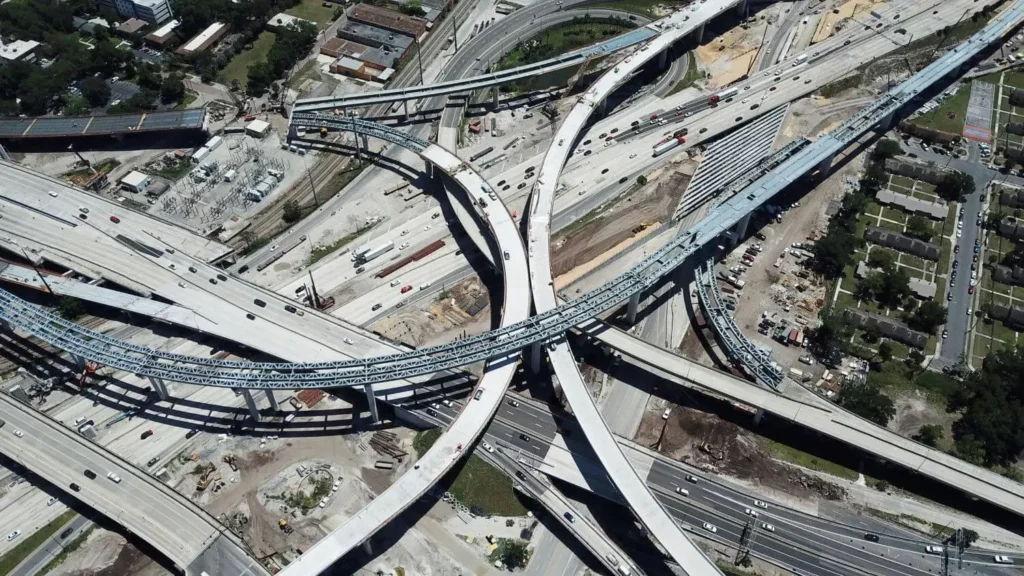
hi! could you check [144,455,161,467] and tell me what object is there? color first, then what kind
gray vehicle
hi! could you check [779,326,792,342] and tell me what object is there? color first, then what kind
gray vehicle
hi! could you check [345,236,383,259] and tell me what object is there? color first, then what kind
white truck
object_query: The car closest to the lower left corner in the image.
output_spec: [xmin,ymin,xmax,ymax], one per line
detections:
[4,527,23,541]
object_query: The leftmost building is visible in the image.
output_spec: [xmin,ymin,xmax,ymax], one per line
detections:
[0,37,44,69]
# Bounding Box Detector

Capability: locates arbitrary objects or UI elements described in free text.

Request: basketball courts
[962,122,991,141]
[969,77,995,106]
[965,99,993,129]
